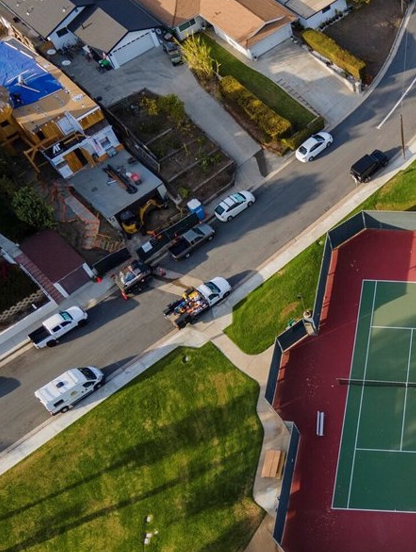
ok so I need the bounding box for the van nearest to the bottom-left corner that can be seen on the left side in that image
[33,363,110,417]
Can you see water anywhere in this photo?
No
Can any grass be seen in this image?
Yes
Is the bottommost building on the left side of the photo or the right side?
left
